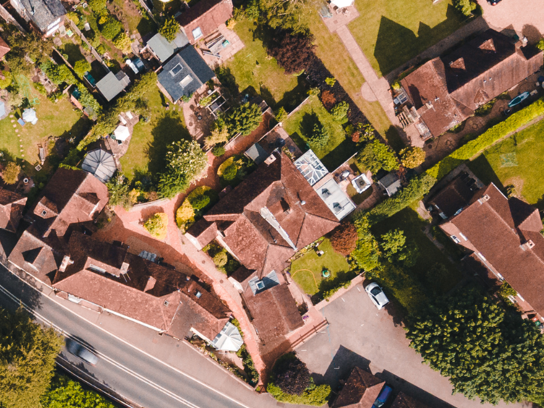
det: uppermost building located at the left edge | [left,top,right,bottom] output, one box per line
[11,0,65,48]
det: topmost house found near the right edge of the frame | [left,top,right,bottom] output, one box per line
[387,24,544,145]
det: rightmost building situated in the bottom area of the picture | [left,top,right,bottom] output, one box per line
[421,172,544,337]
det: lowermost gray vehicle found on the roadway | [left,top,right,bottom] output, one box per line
[62,337,99,365]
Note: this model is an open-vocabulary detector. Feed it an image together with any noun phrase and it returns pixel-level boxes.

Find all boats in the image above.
[510,93,530,106]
